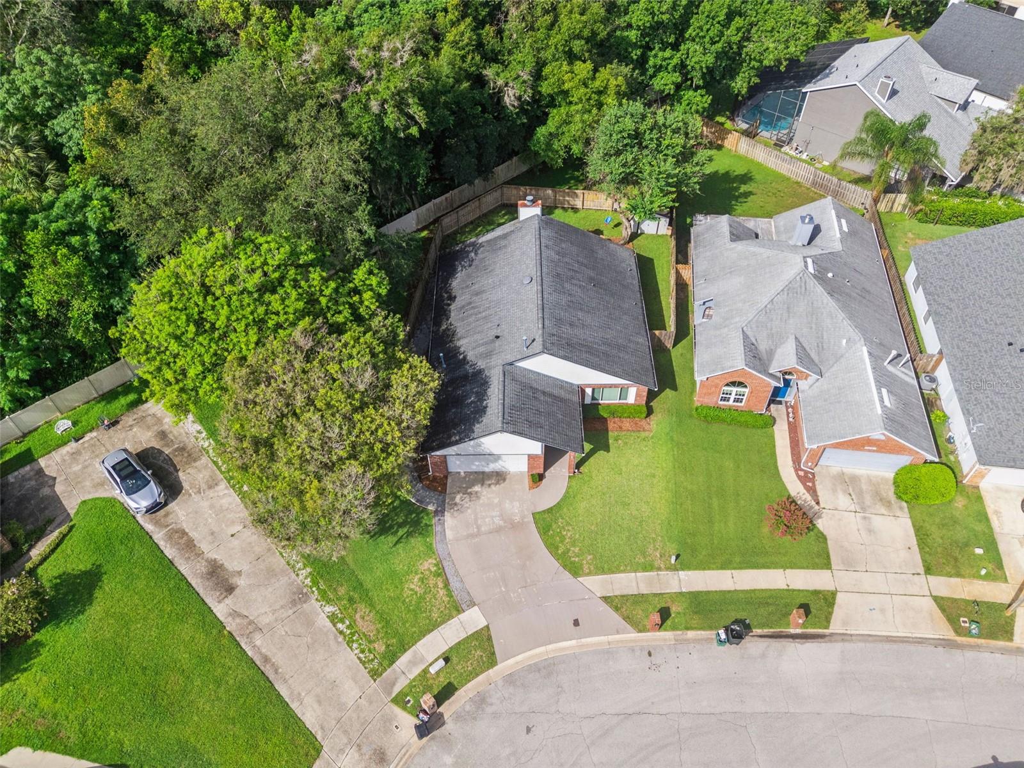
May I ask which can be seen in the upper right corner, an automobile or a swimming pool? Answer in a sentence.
Visible in the upper right corner is a swimming pool.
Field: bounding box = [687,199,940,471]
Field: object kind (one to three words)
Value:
house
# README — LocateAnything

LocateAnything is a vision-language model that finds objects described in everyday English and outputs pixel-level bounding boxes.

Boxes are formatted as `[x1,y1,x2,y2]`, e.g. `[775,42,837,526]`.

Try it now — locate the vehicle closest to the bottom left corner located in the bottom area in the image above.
[104,451,165,516]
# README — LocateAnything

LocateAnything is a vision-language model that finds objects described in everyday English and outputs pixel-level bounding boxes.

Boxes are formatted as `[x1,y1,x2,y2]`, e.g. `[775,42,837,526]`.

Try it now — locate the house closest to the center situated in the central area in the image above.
[419,192,659,479]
